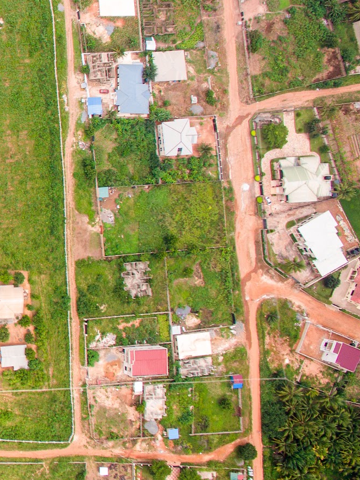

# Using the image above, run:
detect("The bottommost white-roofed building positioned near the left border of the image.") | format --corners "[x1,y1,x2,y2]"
[0,345,29,371]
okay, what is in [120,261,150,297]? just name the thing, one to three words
building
